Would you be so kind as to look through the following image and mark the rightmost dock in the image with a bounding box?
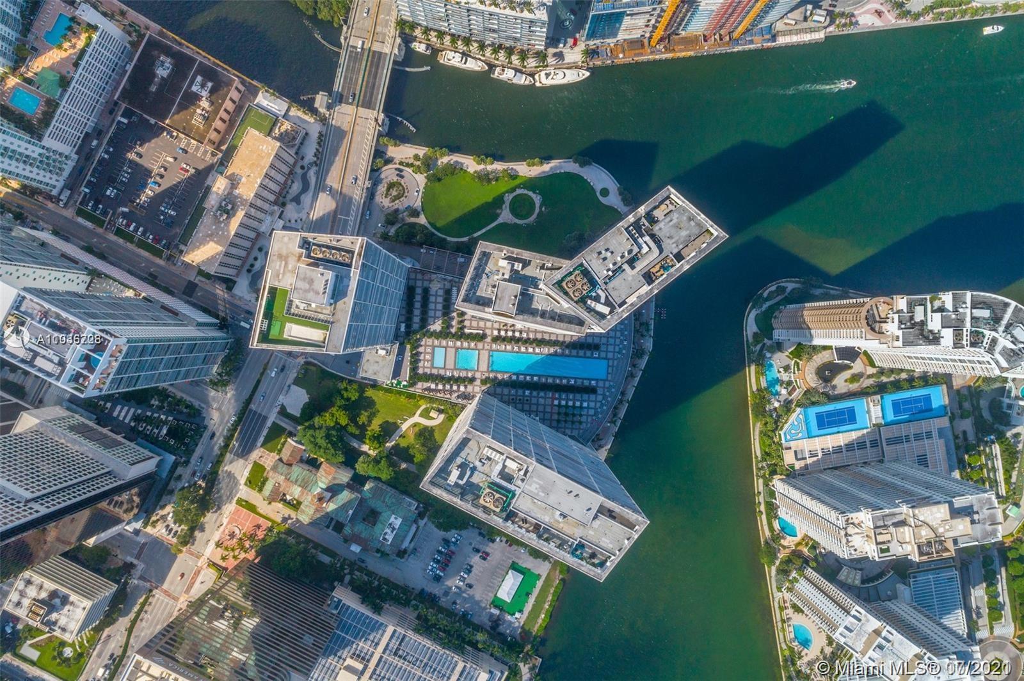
[775,27,826,49]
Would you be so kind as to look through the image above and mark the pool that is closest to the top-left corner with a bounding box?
[42,11,72,47]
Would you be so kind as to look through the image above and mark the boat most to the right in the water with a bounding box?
[979,24,1004,36]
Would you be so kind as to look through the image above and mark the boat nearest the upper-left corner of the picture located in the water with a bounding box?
[411,42,432,54]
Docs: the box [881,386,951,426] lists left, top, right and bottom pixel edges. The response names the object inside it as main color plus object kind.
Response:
blue tennis court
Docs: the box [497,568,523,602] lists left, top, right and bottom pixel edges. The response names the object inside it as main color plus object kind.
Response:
white tent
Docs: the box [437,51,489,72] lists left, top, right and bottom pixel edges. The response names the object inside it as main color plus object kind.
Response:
white boat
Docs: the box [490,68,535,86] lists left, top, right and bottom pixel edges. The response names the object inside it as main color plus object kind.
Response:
white boat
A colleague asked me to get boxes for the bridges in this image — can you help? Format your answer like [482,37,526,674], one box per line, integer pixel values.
[301,0,407,237]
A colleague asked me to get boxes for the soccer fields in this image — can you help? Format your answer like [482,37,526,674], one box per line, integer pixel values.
[211,103,277,171]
